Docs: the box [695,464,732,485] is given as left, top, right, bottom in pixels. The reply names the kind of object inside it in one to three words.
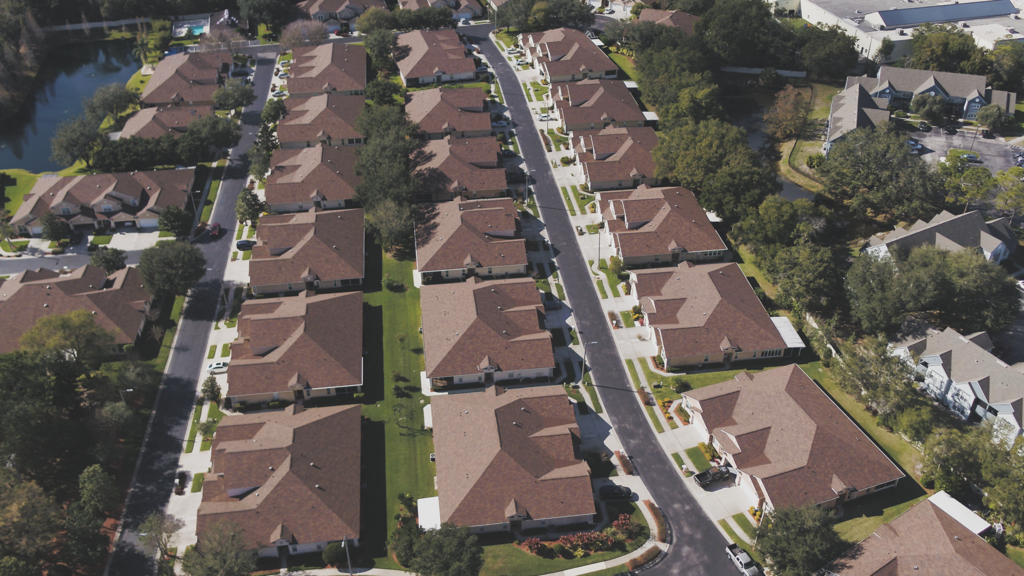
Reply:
truck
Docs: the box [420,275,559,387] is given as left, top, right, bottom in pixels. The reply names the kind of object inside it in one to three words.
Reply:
house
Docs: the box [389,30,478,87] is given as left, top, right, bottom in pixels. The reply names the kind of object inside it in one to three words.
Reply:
house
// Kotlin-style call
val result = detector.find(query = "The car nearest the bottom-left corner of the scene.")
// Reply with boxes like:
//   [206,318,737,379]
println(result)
[201,360,224,373]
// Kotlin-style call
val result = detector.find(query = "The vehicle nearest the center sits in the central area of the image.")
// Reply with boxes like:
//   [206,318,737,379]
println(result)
[545,297,565,309]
